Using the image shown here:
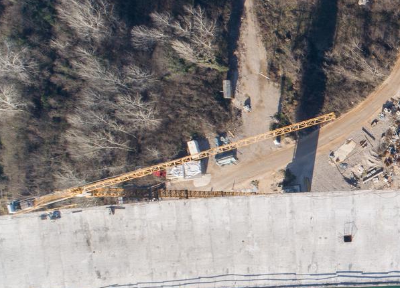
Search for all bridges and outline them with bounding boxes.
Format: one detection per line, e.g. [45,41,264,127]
[0,191,400,288]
